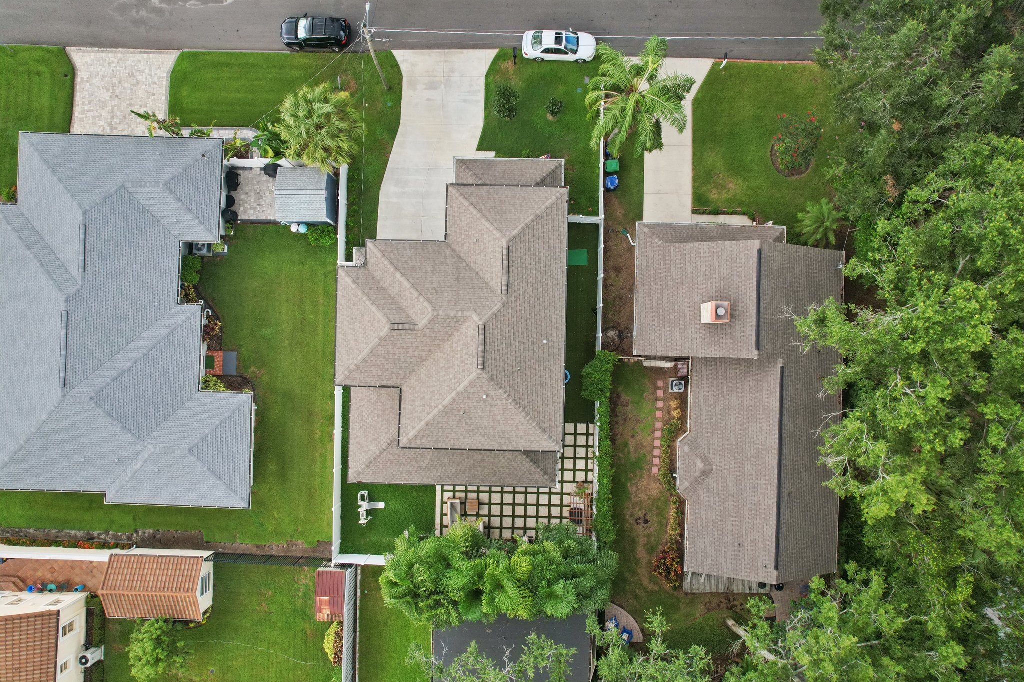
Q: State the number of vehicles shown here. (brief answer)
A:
2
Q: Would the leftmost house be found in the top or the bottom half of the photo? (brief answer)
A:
bottom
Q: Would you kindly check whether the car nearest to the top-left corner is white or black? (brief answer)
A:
black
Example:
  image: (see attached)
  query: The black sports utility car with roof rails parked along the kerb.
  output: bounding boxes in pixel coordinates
[280,13,351,54]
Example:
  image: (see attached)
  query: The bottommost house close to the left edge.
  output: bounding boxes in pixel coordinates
[0,593,87,682]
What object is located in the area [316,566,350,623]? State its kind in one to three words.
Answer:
shed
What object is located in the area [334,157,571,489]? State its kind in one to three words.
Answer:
house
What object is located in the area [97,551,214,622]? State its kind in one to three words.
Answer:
building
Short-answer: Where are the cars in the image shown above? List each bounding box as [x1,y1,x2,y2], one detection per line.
[524,27,597,65]
[280,13,351,54]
